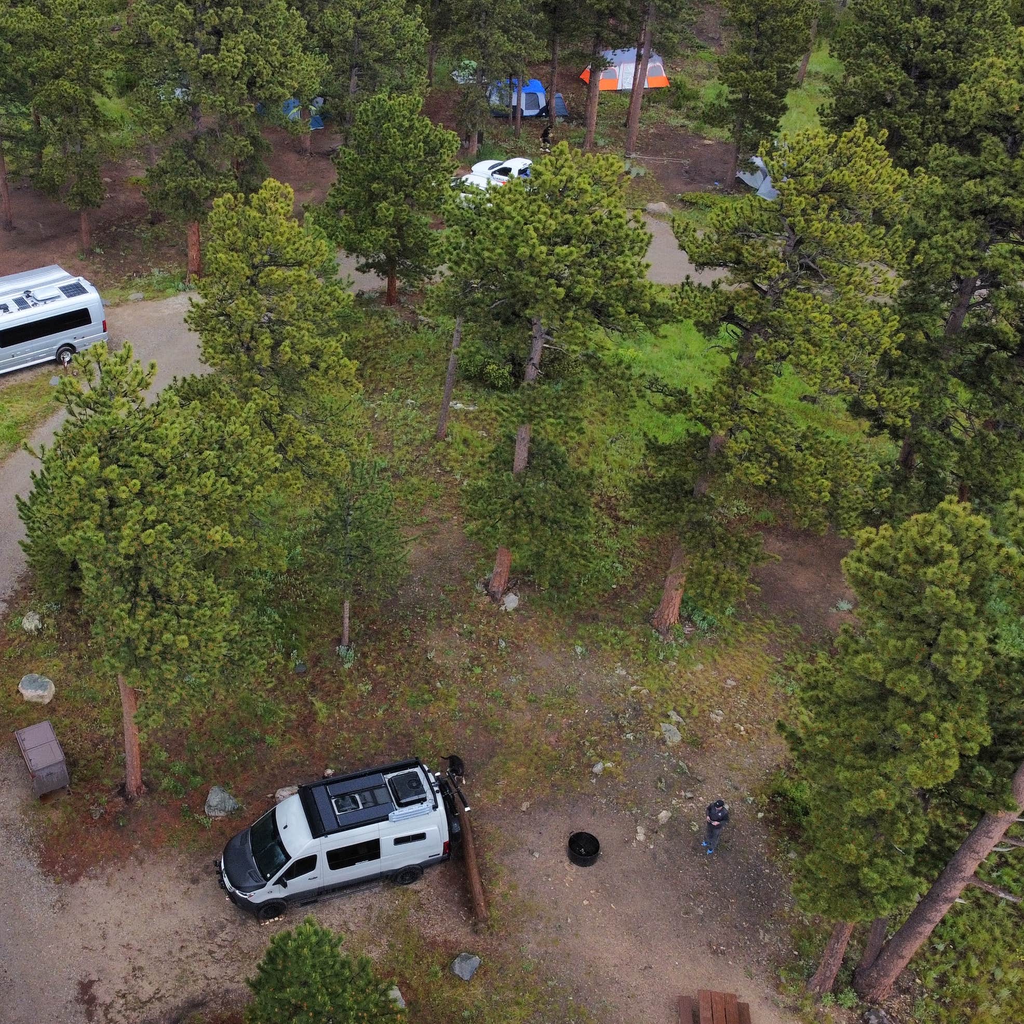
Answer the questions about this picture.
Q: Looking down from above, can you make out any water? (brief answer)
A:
No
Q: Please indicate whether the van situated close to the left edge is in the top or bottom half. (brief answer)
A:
top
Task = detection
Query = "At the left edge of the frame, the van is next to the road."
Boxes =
[0,286,108,376]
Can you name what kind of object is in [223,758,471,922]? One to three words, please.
van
